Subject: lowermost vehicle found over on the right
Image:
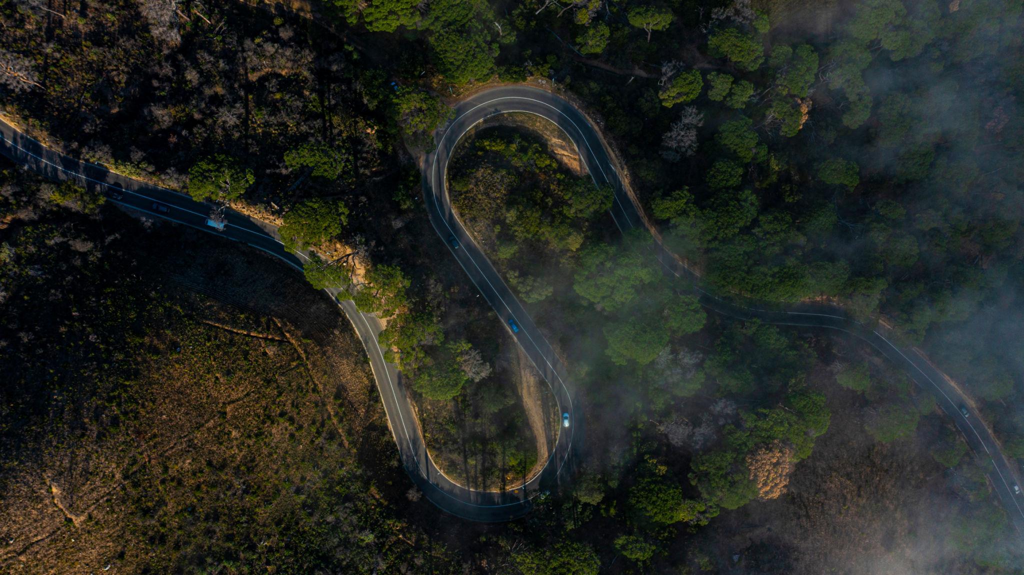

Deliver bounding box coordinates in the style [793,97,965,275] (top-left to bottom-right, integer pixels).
[1010,479,1022,494]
